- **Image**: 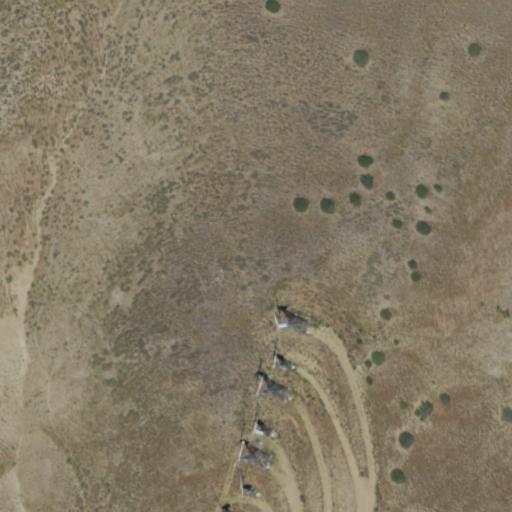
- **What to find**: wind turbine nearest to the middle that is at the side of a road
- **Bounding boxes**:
[274,314,310,342]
